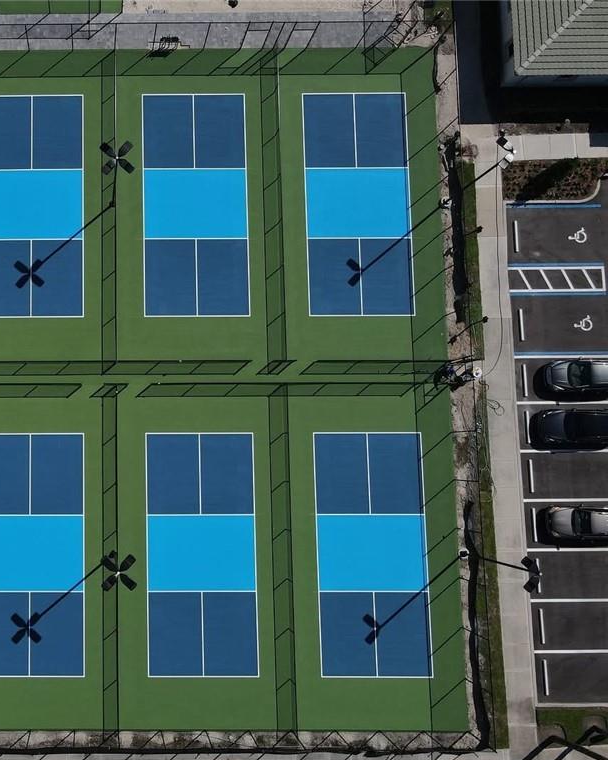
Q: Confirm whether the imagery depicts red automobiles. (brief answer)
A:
No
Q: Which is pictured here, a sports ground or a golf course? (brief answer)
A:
sports ground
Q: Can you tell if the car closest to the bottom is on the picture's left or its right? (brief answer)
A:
right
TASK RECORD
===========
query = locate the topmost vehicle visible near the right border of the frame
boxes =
[538,354,608,394]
